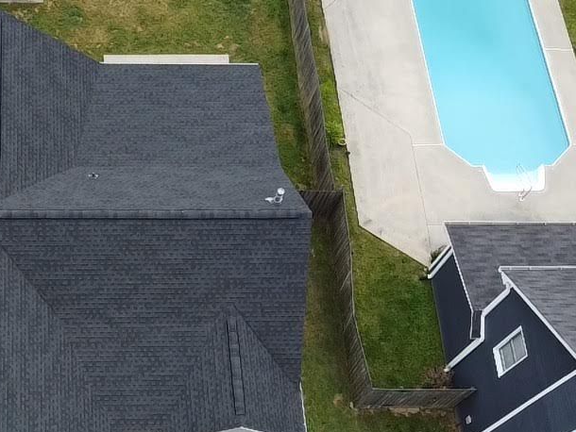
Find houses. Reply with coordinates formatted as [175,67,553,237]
[0,15,309,432]
[428,220,576,432]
